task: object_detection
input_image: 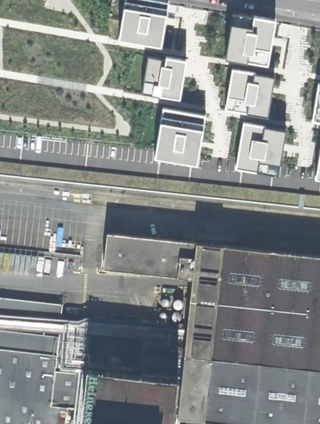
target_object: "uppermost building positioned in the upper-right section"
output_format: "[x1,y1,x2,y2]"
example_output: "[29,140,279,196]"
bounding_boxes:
[226,16,276,70]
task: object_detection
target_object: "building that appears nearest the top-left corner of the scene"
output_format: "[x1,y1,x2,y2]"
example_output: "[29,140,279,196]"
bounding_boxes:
[119,0,169,52]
